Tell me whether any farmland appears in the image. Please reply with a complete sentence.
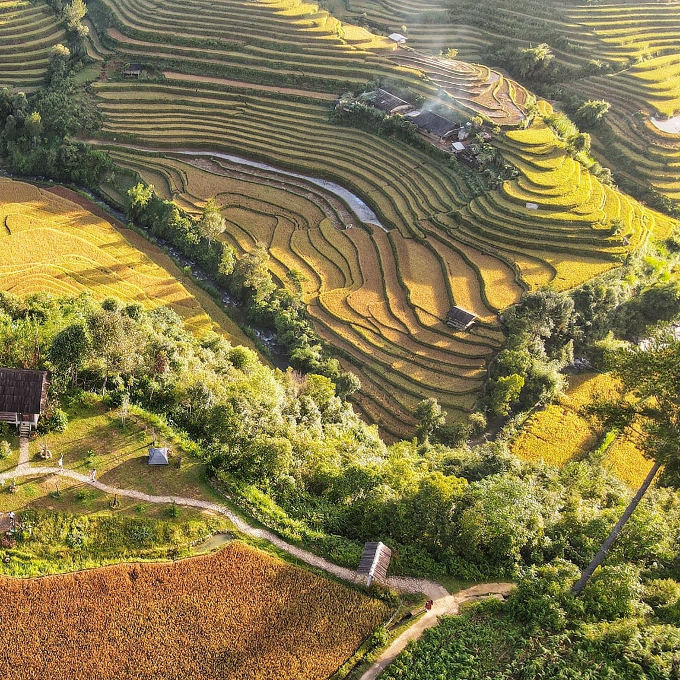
Yes, farmland shows up in the scene.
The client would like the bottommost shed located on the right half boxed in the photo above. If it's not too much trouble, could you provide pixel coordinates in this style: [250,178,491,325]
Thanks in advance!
[444,305,478,336]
